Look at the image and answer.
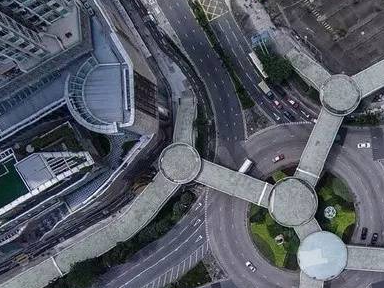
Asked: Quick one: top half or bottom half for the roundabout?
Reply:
bottom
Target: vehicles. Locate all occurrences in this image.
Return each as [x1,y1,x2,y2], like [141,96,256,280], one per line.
[245,261,256,271]
[257,80,275,101]
[246,51,270,81]
[359,142,371,148]
[283,111,294,122]
[361,227,367,240]
[288,98,300,109]
[238,155,258,174]
[271,98,283,109]
[273,154,285,162]
[371,232,377,244]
